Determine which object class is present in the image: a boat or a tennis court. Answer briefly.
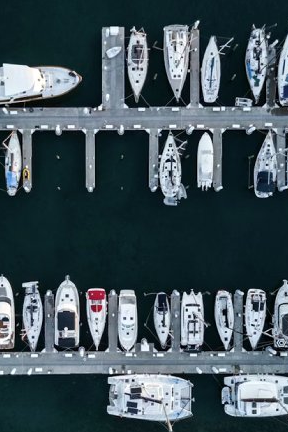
boat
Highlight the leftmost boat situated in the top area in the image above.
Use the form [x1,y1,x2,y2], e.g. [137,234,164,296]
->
[0,131,21,194]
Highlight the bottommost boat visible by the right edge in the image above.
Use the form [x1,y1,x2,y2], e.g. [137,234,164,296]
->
[214,373,288,418]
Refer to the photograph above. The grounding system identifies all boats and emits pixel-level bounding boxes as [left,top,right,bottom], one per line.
[19,280,42,351]
[180,290,211,351]
[155,25,194,106]
[118,289,138,351]
[0,63,84,108]
[243,288,282,351]
[179,185,188,200]
[215,290,255,351]
[254,129,288,197]
[158,130,187,198]
[246,22,288,105]
[162,197,179,206]
[198,33,233,107]
[278,31,288,107]
[0,131,21,194]
[86,288,107,351]
[262,278,288,350]
[107,370,199,432]
[54,275,79,353]
[214,373,288,418]
[0,274,16,351]
[221,387,230,405]
[120,27,154,107]
[148,291,176,349]
[197,130,213,189]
